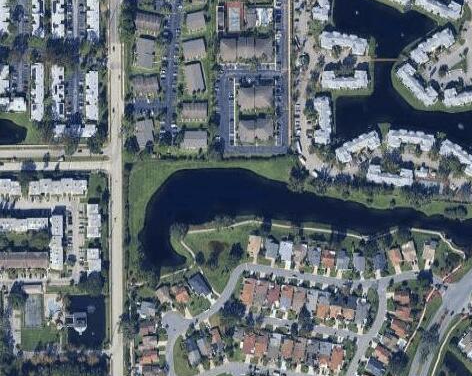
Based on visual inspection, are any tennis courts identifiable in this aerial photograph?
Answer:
Yes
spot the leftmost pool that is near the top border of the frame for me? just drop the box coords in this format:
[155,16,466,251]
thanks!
[257,8,273,26]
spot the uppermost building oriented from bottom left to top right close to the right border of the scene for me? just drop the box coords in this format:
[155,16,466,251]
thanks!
[409,27,456,64]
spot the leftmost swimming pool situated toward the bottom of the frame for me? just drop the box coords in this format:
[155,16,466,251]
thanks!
[45,294,64,330]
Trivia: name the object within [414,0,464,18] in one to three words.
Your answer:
building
